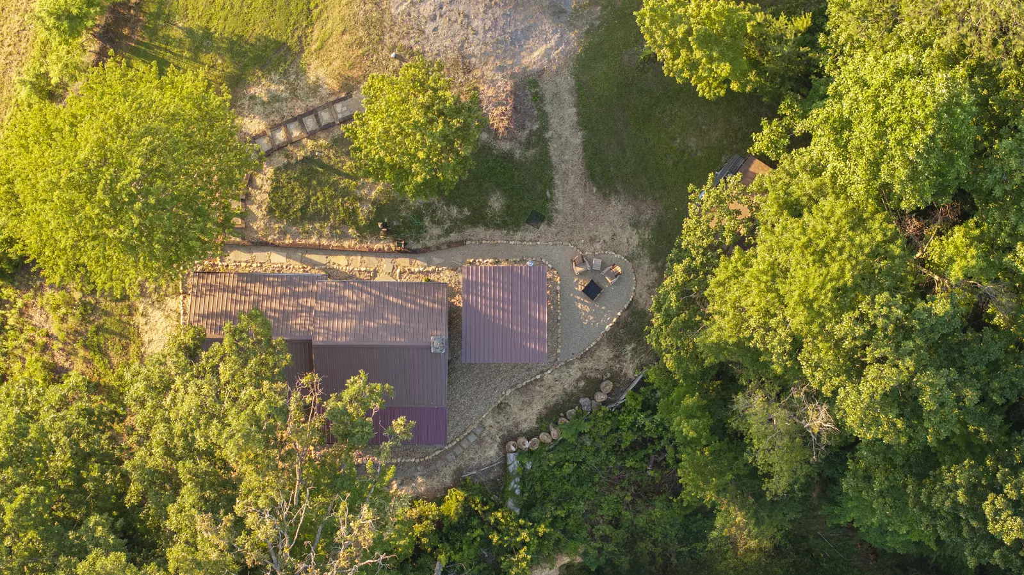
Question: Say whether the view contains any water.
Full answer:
No, no water is visible.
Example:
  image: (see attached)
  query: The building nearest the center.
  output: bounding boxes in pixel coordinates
[462,266,547,363]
